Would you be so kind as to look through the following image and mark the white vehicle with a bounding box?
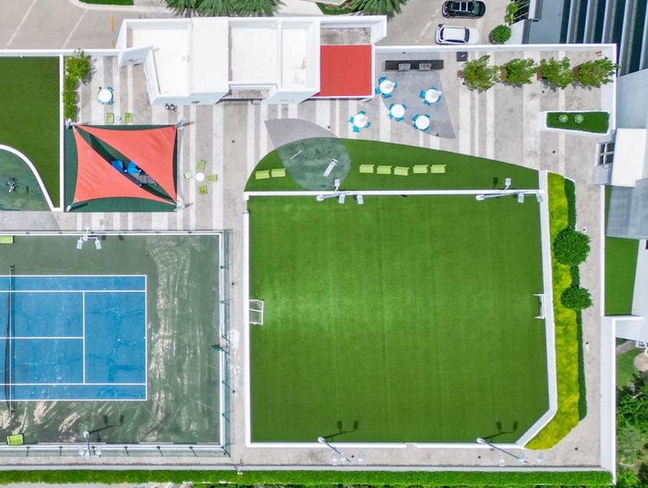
[431,23,478,46]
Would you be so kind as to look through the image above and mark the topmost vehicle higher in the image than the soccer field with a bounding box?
[438,0,484,20]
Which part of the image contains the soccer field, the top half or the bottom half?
bottom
